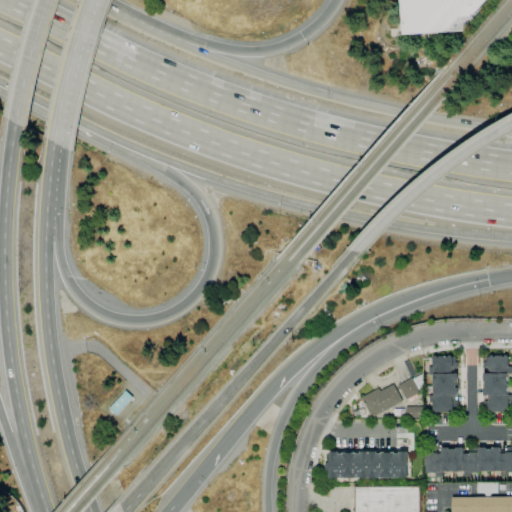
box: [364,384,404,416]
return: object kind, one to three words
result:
house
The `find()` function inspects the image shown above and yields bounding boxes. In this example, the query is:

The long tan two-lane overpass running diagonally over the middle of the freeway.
[277,86,448,272]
